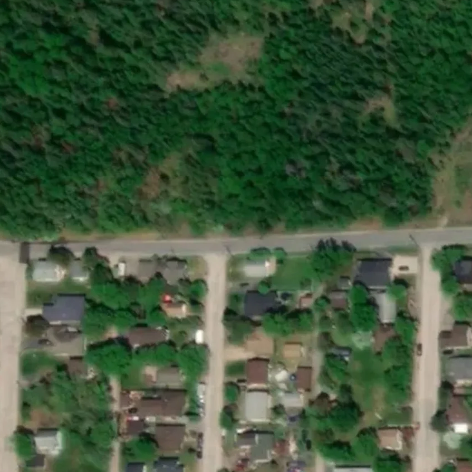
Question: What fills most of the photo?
trees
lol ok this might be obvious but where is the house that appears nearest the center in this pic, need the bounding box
[242,262,269,279]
